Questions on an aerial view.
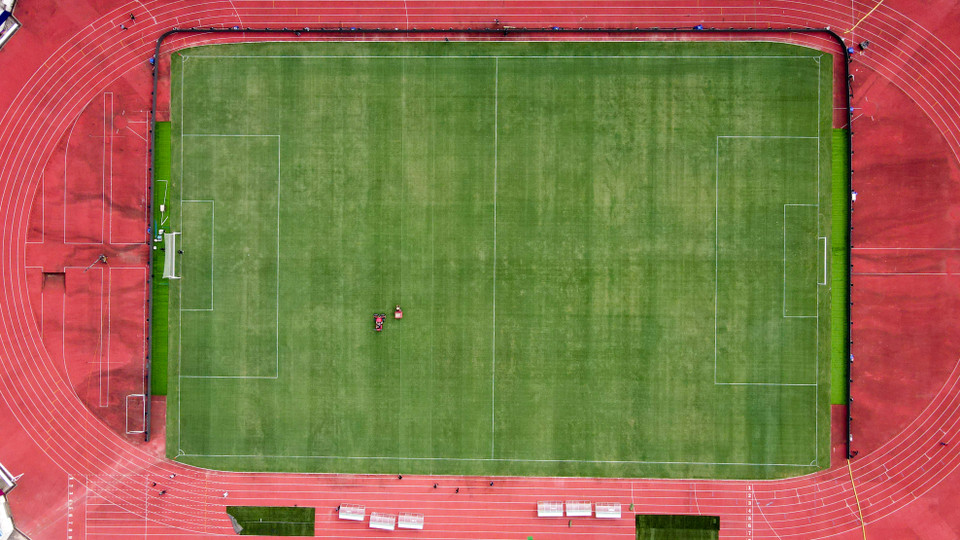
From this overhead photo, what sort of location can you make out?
sports ground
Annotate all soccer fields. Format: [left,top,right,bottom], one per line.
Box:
[166,42,832,480]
